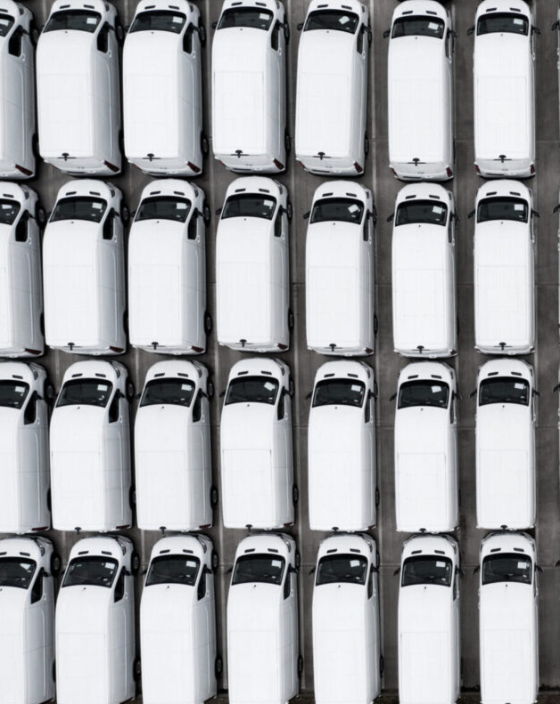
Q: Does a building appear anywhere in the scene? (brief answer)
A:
No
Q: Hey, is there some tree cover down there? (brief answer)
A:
No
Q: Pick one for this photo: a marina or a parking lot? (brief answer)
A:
parking lot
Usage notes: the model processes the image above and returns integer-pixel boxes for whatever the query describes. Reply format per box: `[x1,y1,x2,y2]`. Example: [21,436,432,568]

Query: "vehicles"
[129,178,213,355]
[308,531,381,704]
[139,532,223,704]
[0,0,46,181]
[393,532,464,704]
[218,357,299,533]
[472,530,543,704]
[134,358,219,535]
[389,360,461,536]
[44,179,132,355]
[386,182,459,358]
[38,0,127,178]
[467,180,540,355]
[0,180,49,357]
[56,533,142,704]
[304,359,379,535]
[123,0,209,179]
[214,175,295,353]
[382,0,457,183]
[466,0,540,180]
[296,0,371,178]
[302,180,377,356]
[225,530,303,704]
[51,358,138,535]
[0,360,56,534]
[469,357,540,533]
[210,0,291,175]
[0,534,62,704]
